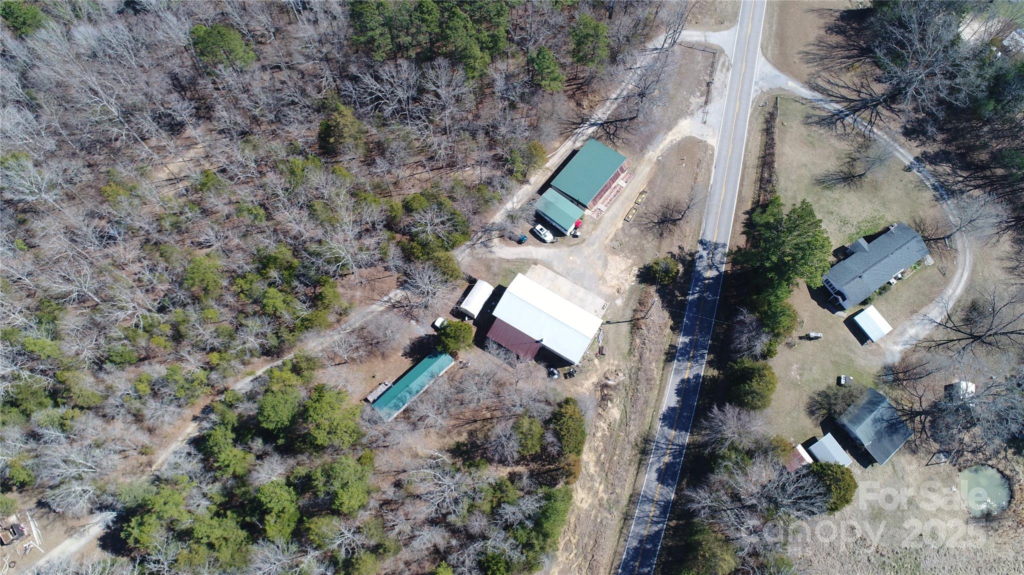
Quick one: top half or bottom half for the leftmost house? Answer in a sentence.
The bottom half of the photo is where the leftmost house is.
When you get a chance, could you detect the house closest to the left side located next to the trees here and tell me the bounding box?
[373,348,452,424]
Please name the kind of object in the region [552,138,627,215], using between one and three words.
barn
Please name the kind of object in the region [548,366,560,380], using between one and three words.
vehicle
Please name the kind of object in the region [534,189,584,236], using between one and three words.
building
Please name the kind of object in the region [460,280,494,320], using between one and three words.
shed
